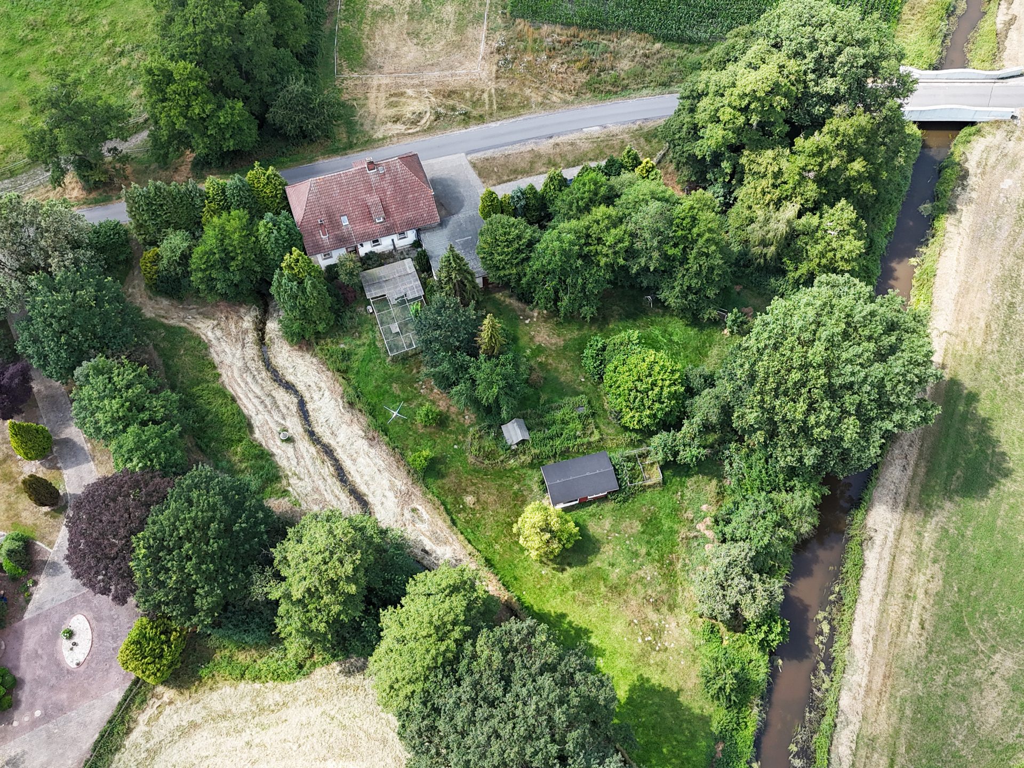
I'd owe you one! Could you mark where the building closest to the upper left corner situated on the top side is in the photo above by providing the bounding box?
[286,152,440,267]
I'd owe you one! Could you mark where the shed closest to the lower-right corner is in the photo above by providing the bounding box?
[541,451,619,510]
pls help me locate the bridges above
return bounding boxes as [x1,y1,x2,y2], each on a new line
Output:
[901,61,1024,121]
